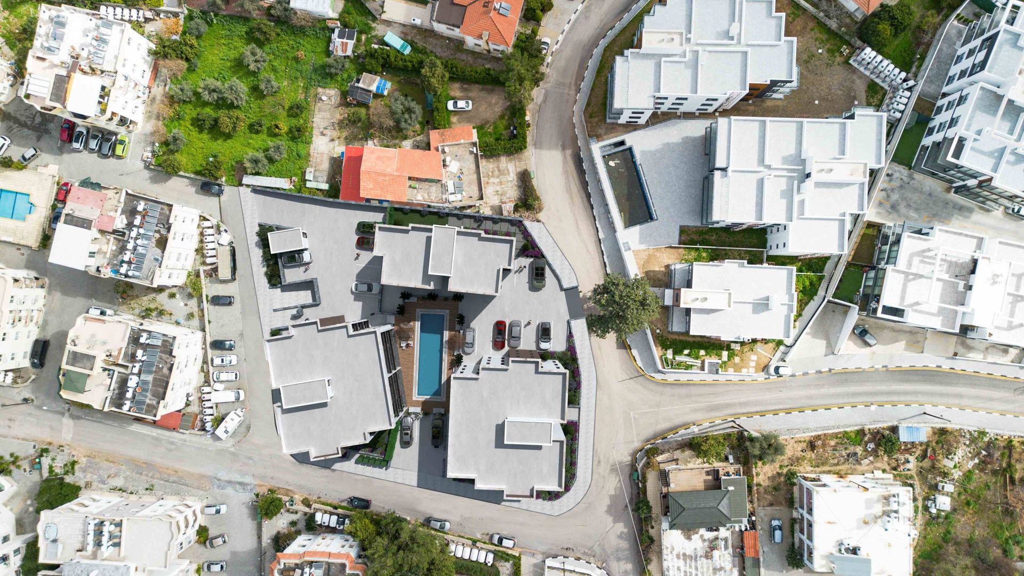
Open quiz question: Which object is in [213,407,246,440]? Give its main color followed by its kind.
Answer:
white camper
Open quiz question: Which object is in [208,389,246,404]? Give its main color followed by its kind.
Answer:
white vehicle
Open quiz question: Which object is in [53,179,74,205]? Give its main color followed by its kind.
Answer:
red car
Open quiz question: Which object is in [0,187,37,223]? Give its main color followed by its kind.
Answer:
blue swimming pool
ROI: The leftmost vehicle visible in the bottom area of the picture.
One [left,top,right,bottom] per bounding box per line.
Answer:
[28,337,53,370]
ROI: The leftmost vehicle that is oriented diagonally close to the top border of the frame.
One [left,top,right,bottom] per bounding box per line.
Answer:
[381,28,412,55]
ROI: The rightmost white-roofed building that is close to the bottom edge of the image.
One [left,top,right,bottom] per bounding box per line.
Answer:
[795,468,914,576]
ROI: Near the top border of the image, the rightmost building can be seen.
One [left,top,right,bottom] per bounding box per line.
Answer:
[901,0,1024,214]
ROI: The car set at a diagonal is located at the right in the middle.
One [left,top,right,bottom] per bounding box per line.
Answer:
[852,324,879,349]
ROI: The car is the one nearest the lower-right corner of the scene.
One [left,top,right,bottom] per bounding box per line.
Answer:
[769,518,783,543]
